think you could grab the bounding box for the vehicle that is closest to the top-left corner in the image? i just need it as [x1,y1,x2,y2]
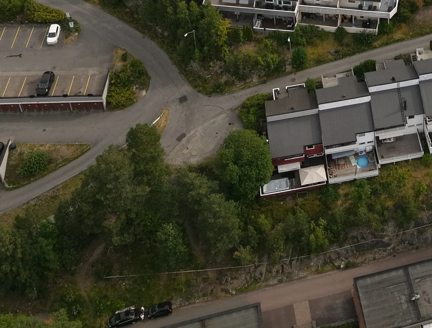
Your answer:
[45,24,60,43]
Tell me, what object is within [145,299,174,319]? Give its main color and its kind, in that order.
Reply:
black car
